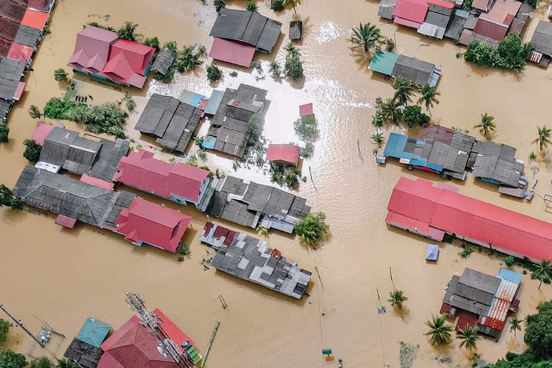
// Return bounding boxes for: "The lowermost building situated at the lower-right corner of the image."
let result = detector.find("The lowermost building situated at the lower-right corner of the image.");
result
[440,267,523,338]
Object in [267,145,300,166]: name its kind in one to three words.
house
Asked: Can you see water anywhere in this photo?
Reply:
Yes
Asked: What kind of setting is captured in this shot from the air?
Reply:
residential area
